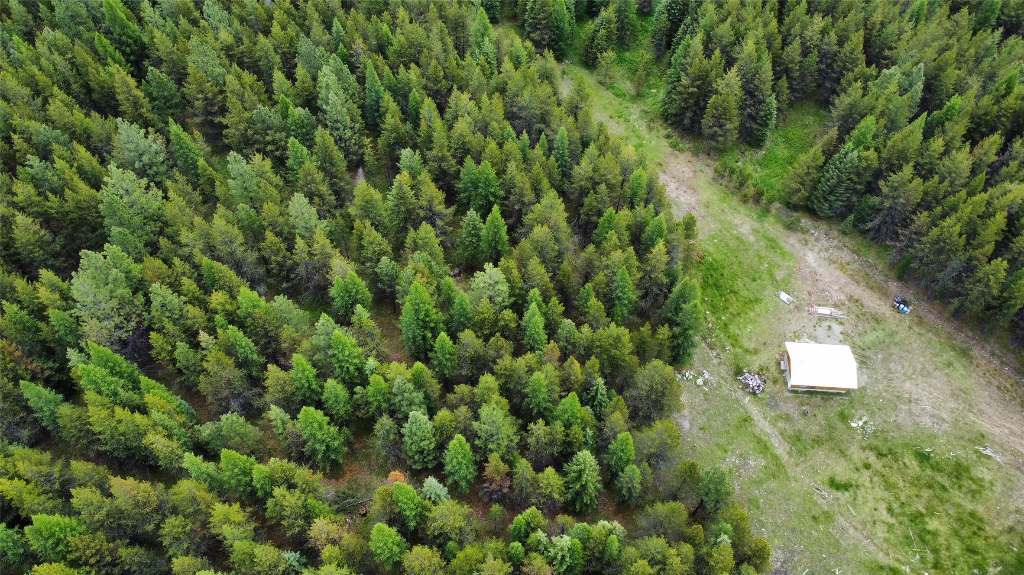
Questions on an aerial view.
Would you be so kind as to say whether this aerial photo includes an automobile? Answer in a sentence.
No, there is no automobile in the image.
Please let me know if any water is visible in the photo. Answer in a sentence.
No, there's no water in this view.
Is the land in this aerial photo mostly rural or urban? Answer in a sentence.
The land in this view is best described as rural.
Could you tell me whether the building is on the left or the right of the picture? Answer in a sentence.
The building appears in the right half of the scene.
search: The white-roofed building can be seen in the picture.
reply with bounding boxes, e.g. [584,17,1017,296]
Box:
[782,342,857,393]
